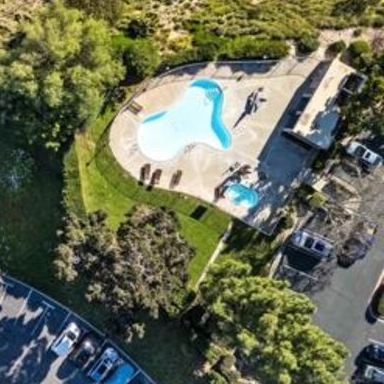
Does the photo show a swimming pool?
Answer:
Yes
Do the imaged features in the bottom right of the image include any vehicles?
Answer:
Yes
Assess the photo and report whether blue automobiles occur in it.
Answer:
Yes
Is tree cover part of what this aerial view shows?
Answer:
Yes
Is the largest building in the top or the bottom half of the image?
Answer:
top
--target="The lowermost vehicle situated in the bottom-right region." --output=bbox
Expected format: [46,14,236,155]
[360,362,384,384]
